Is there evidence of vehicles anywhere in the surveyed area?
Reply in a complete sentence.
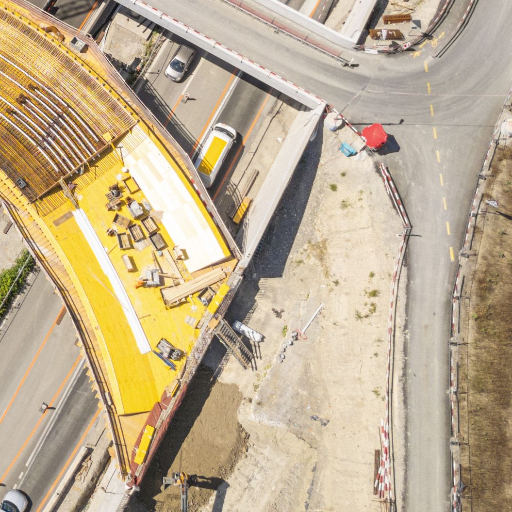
Yes, a vehicle is visible in the scene.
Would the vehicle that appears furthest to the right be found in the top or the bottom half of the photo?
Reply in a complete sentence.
The top half of the photo is where the vehicle that appears furthest to the right is.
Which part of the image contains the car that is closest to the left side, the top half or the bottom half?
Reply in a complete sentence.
Seen from above, the car that is closest to the left side lies in the bottom half of the view.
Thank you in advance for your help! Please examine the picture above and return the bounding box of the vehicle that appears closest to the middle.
[196,122,243,192]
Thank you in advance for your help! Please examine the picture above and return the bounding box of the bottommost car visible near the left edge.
[0,486,31,512]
